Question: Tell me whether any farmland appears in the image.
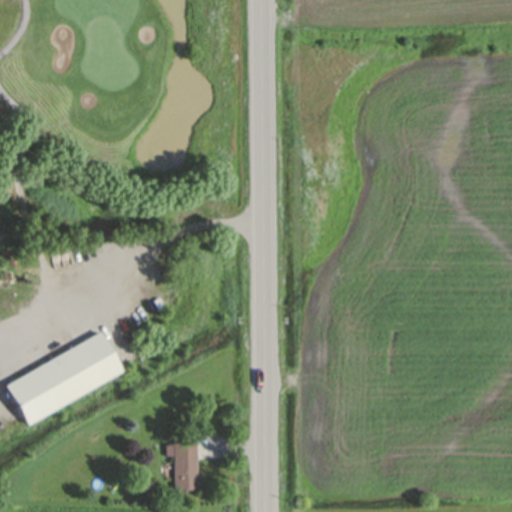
Yes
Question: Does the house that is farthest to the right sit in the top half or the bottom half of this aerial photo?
bottom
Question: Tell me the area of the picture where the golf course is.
top left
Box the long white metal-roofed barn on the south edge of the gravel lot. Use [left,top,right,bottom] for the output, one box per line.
[7,332,123,426]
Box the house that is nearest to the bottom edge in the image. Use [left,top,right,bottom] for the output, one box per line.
[166,444,198,490]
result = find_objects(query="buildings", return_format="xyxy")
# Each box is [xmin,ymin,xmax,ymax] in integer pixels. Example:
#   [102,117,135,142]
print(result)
[166,444,198,490]
[7,332,123,426]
